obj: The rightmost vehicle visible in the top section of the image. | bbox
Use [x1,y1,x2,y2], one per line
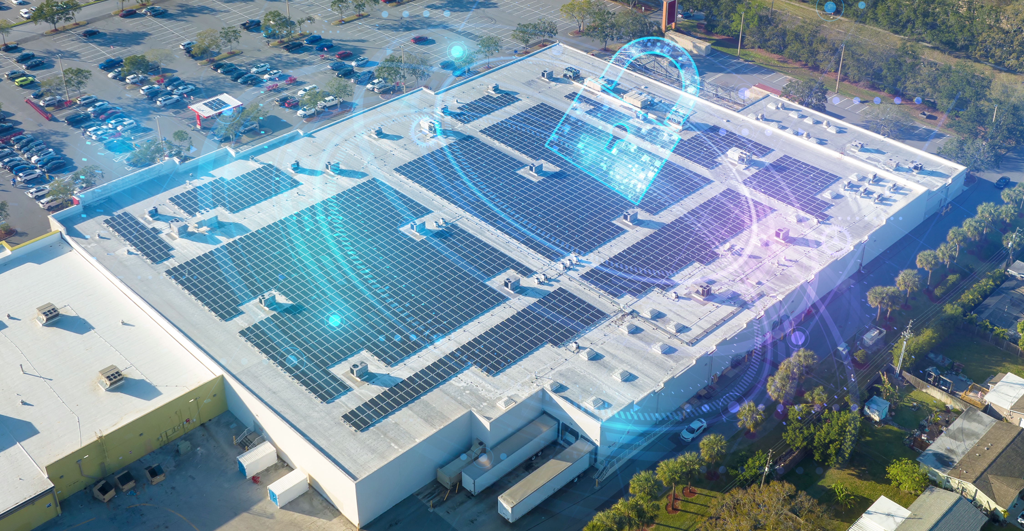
[994,177,1010,191]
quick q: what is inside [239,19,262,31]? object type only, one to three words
vehicle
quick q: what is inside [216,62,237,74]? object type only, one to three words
vehicle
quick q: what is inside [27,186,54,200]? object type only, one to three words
car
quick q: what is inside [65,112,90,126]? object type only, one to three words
car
